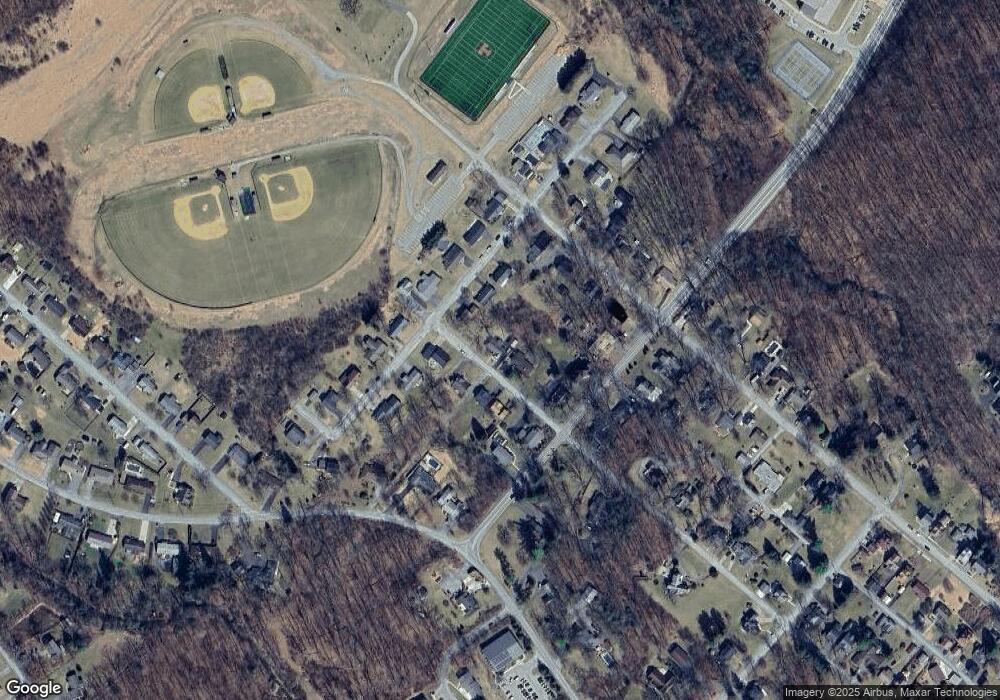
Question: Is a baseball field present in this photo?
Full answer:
Yes, the frame does contain a baseball field.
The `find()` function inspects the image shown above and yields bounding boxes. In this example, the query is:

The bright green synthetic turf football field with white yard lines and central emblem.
[420,0,550,120]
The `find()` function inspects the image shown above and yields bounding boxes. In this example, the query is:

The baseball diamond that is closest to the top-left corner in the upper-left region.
[147,47,231,141]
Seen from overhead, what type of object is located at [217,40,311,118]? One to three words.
baseball field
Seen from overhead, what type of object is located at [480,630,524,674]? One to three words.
building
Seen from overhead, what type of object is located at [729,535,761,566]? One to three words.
house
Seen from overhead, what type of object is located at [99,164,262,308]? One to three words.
baseball field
